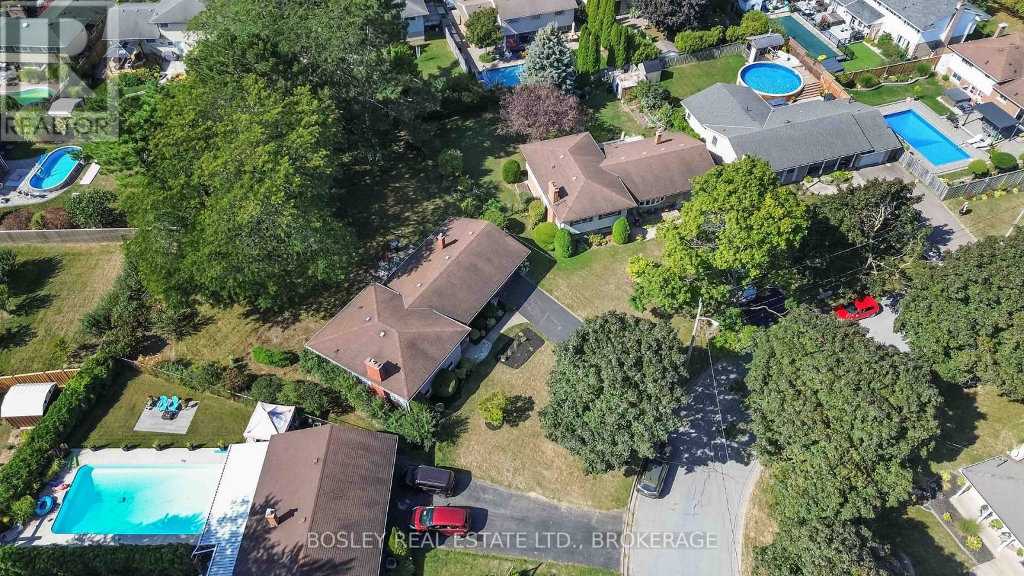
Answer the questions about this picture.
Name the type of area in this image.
residential area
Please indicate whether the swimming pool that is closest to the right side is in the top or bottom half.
top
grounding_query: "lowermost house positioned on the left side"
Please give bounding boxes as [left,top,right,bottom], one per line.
[193,421,400,576]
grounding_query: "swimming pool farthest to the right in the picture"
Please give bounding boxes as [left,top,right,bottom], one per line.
[880,105,976,175]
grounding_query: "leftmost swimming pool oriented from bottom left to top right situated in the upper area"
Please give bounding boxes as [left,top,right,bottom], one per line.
[20,146,95,201]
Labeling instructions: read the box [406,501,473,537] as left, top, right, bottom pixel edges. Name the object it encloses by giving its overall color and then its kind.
red car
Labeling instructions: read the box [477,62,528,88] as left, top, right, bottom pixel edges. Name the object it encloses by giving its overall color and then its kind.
blue swimming pool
